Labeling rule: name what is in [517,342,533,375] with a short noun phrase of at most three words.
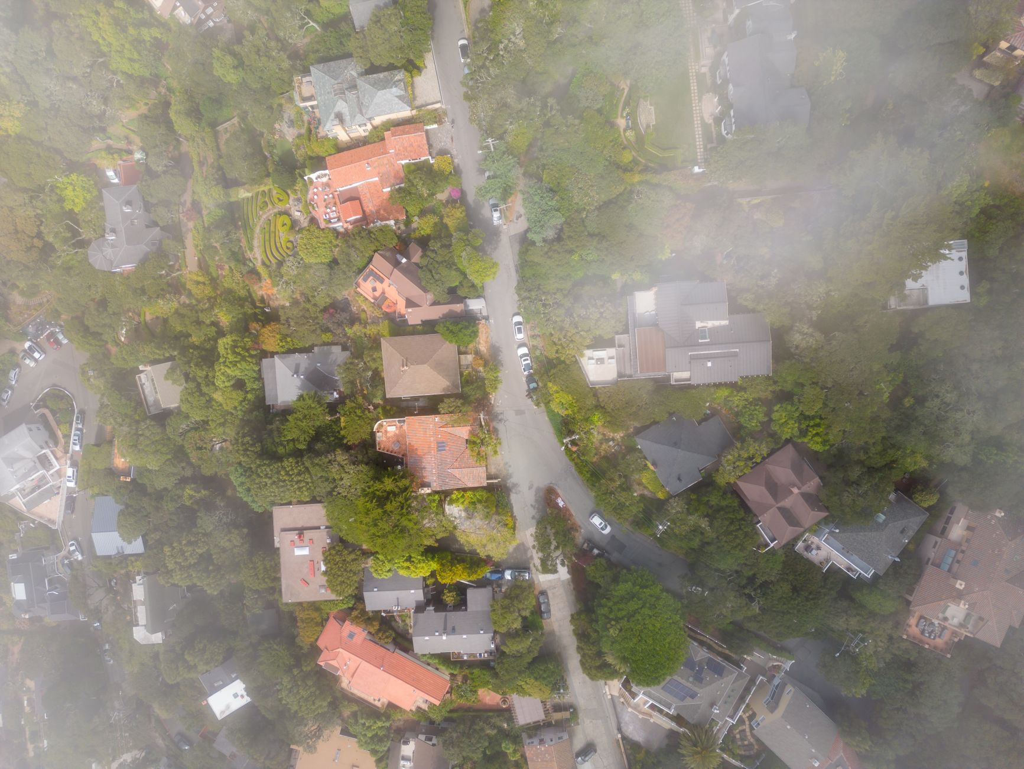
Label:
car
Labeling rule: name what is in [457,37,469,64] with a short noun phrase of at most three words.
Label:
vehicle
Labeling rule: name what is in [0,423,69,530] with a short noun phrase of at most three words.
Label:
house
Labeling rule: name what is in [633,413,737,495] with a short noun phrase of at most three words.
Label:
house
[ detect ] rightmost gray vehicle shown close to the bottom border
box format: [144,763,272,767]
[573,744,600,768]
